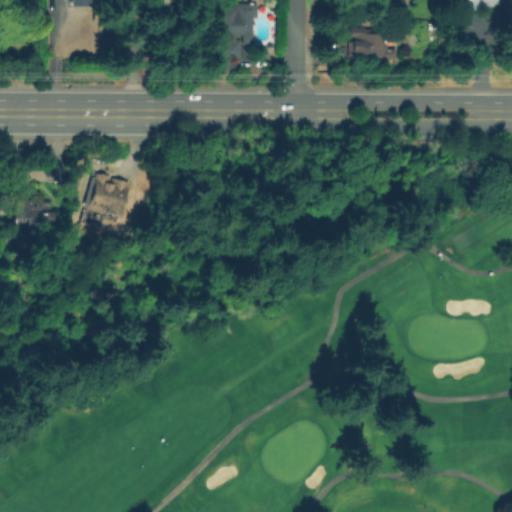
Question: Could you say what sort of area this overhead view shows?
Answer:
golf course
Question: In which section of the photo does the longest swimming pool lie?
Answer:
top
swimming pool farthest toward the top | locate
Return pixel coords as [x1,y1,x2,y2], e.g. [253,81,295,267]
[255,5,276,47]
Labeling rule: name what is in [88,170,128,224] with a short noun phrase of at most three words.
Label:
house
